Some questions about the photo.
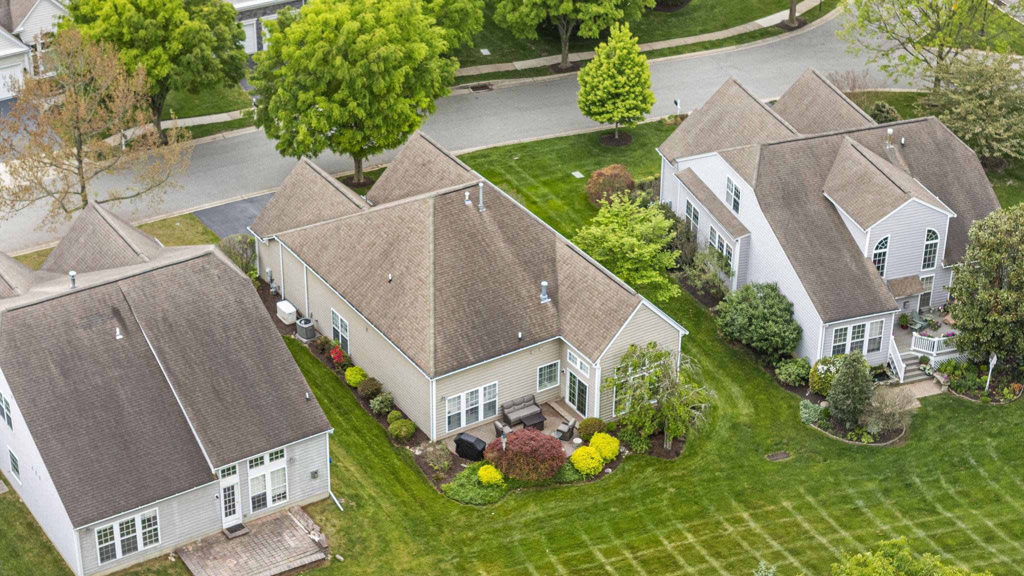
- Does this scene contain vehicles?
No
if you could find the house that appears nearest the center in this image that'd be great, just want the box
[247,130,689,438]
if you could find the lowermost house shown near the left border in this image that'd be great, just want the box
[0,201,335,576]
